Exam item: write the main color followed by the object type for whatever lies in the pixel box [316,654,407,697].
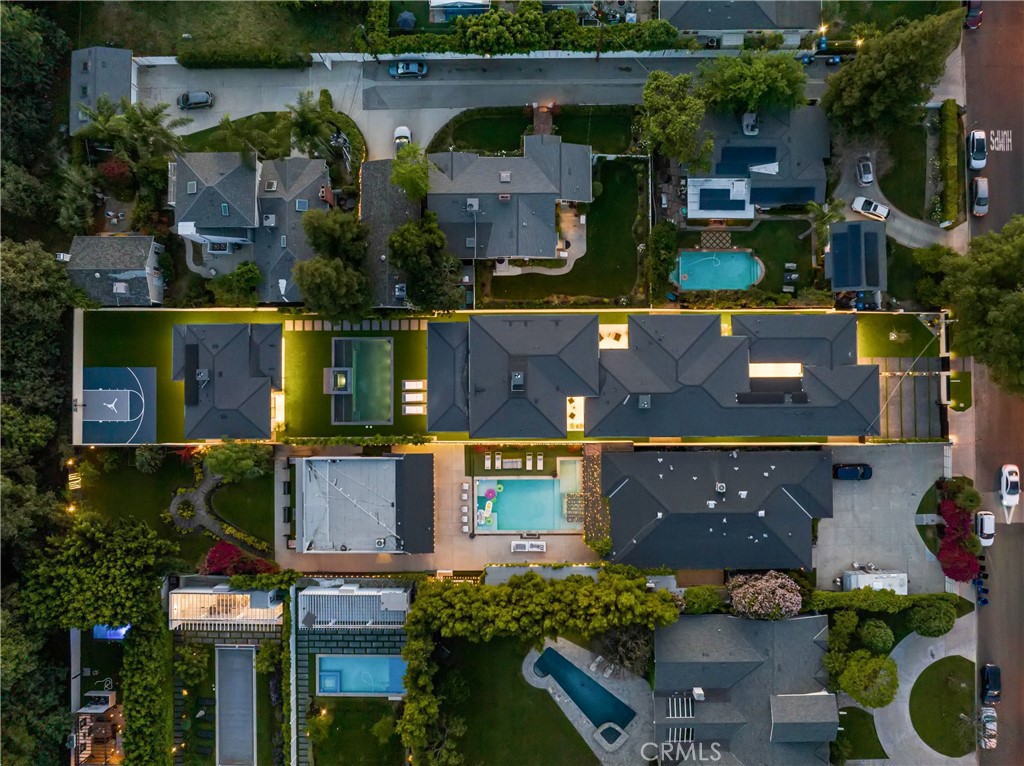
blue swimming pool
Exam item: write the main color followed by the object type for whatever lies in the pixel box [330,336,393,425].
green swimming pool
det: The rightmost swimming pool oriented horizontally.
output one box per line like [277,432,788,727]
[674,250,767,291]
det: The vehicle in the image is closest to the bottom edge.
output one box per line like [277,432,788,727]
[977,706,1000,749]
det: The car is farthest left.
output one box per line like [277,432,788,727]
[177,89,216,111]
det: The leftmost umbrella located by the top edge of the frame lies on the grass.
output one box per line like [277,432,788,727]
[397,13,415,31]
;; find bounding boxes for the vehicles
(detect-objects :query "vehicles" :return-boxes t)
[973,510,998,546]
[848,194,893,222]
[853,150,876,189]
[977,706,1000,749]
[177,89,216,111]
[832,461,872,481]
[392,122,411,155]
[978,661,1003,705]
[969,177,992,218]
[997,463,1021,504]
[837,568,907,594]
[966,128,989,171]
[961,0,985,35]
